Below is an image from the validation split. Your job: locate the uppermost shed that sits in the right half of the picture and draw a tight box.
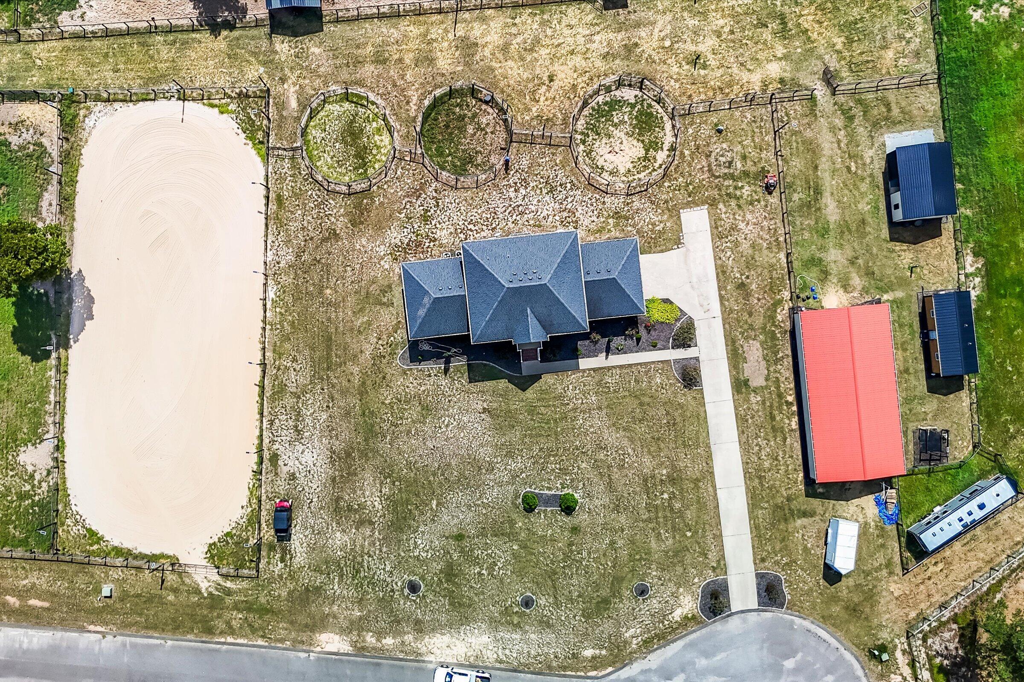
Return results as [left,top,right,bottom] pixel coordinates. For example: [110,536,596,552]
[884,129,957,222]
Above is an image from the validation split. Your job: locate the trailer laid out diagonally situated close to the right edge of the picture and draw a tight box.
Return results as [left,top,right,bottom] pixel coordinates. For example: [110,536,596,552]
[906,473,1016,552]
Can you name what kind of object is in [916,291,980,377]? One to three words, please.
building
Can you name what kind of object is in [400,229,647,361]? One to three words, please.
house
